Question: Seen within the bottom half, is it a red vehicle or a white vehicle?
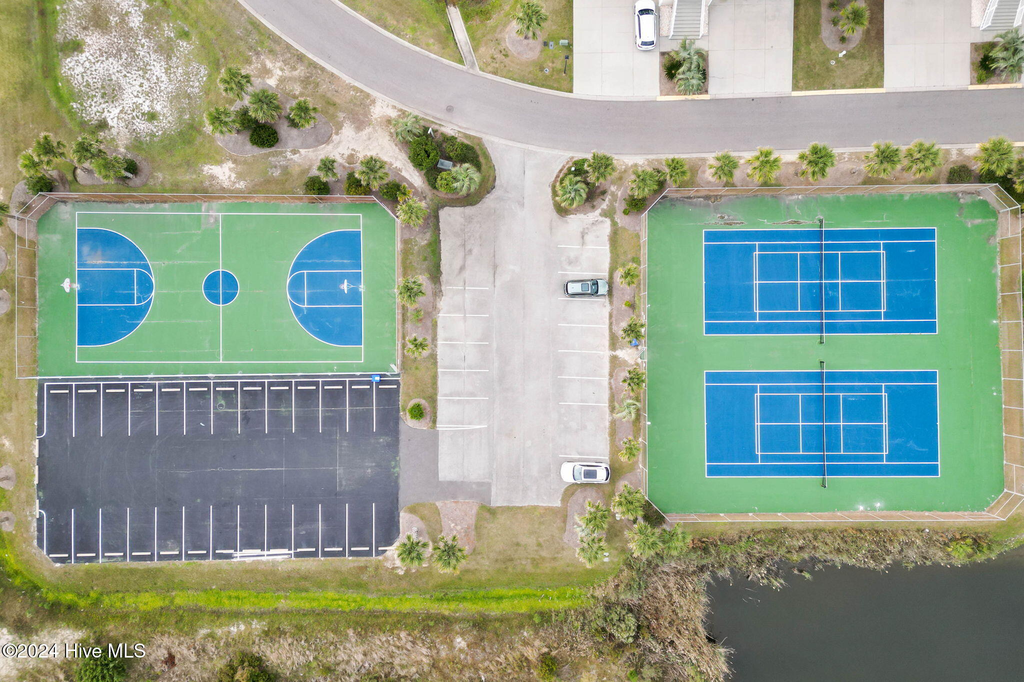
white vehicle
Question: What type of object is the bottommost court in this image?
tennis court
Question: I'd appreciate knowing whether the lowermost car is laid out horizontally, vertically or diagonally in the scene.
horizontally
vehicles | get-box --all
[563,277,609,297]
[561,463,609,485]
[635,2,657,49]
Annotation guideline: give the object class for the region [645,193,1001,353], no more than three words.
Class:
tennis court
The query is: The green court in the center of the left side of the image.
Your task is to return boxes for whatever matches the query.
[37,201,400,381]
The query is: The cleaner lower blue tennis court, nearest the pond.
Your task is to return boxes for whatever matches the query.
[645,350,1004,513]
